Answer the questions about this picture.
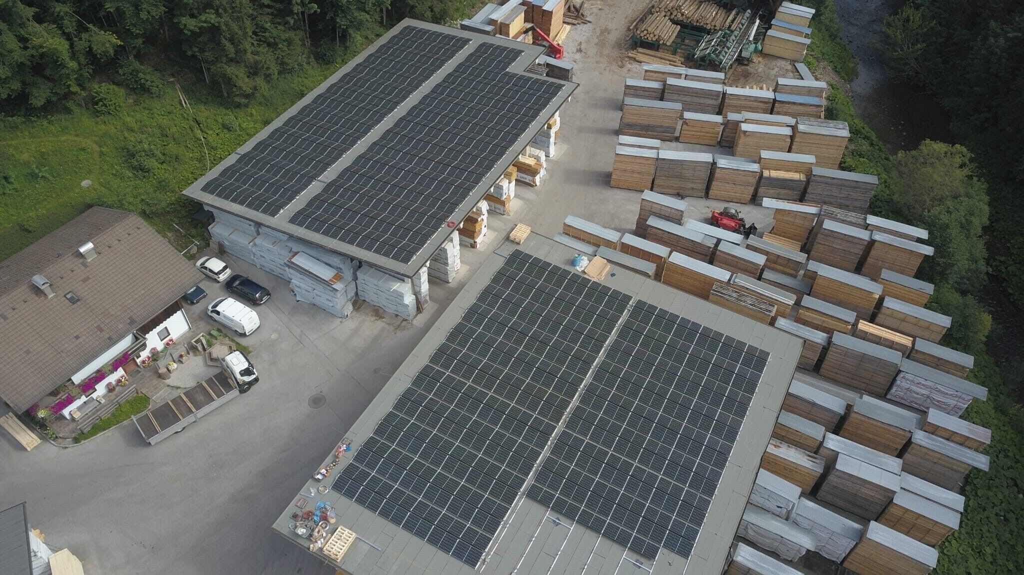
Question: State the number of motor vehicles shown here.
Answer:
seven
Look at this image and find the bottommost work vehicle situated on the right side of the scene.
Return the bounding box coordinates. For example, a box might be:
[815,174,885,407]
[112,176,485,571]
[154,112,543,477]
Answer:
[705,199,758,243]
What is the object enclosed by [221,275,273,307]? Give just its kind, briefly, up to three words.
car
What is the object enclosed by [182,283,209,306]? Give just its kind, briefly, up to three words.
car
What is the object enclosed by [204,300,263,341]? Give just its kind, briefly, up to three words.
van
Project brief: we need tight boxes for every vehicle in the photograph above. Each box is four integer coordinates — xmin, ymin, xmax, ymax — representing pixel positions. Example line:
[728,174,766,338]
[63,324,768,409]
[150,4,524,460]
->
[134,354,265,441]
[204,300,263,341]
[705,199,758,243]
[182,283,209,306]
[221,275,273,307]
[193,256,233,283]
[519,24,563,65]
